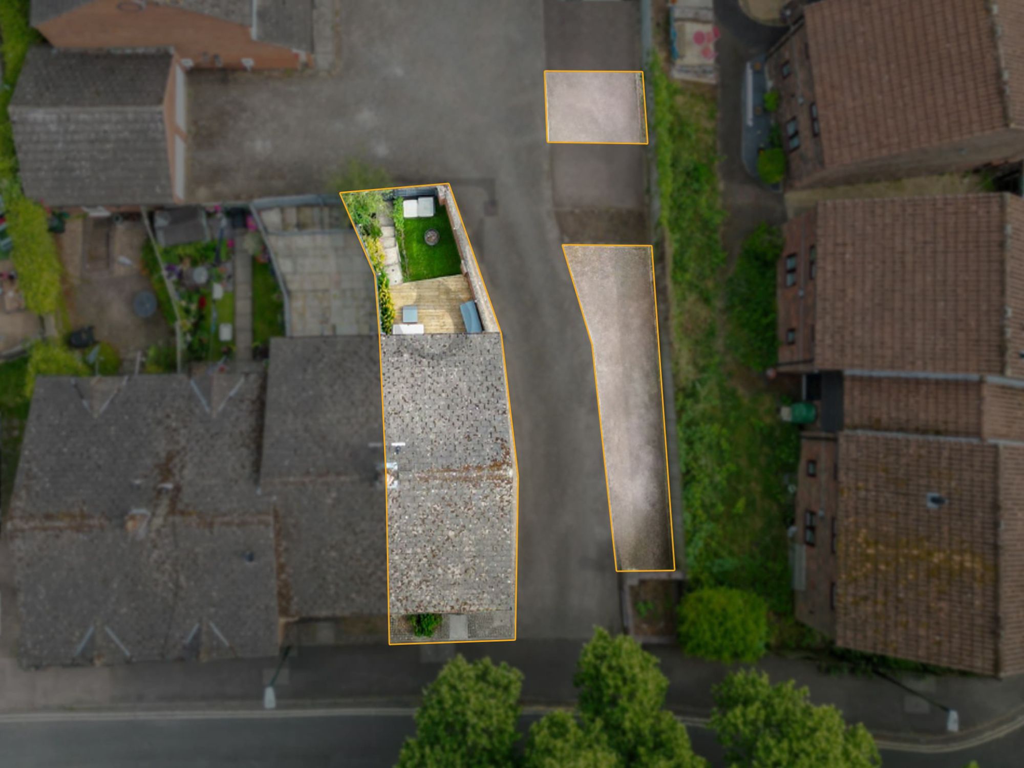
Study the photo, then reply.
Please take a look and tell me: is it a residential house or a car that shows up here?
residential house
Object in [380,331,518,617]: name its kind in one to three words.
house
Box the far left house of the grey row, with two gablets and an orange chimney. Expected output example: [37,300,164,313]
[3,372,171,672]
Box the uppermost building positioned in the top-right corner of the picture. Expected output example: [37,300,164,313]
[767,0,1024,197]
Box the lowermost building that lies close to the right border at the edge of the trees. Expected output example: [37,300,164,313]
[799,428,1024,678]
